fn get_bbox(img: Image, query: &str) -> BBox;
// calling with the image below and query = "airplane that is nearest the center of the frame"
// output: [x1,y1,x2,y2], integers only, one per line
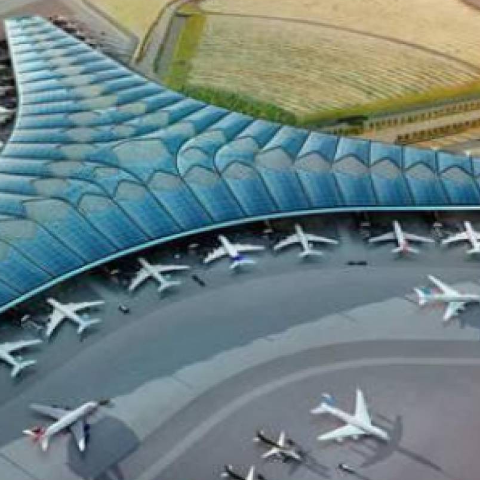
[210,238,263,265]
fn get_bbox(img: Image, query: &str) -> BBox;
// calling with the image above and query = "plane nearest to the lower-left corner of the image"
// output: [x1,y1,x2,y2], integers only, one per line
[32,405,94,448]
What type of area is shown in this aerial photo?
airport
